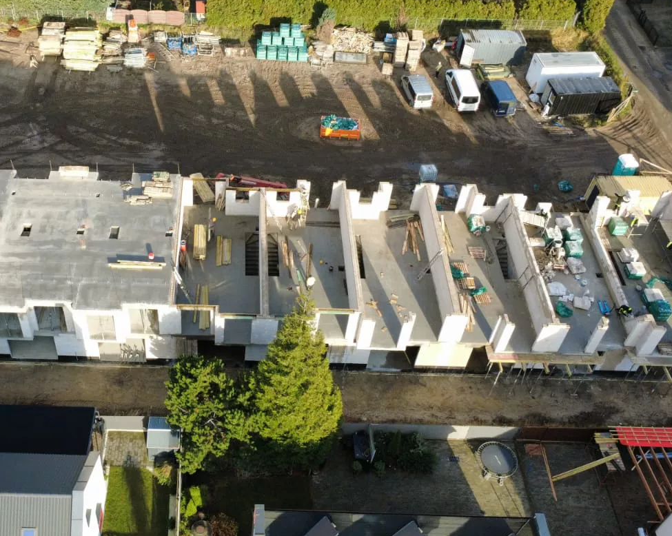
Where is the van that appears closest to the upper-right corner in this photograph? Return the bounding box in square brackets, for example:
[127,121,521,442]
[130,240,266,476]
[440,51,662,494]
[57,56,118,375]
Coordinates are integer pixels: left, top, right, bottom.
[481,79,520,115]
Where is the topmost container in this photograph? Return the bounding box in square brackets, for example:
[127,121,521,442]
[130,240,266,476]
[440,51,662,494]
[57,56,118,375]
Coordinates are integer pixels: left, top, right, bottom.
[458,34,534,71]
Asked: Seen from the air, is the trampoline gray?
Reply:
Yes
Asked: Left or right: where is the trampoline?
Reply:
right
